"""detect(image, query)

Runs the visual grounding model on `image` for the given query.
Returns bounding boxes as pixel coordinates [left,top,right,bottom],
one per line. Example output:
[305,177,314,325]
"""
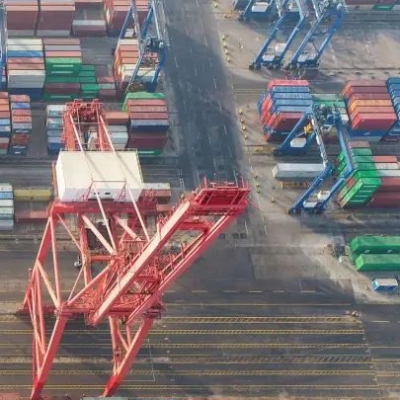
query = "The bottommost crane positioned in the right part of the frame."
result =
[271,104,356,213]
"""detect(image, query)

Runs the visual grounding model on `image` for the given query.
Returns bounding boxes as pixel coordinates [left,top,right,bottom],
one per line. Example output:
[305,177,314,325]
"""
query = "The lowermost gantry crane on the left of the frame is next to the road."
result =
[15,98,252,400]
